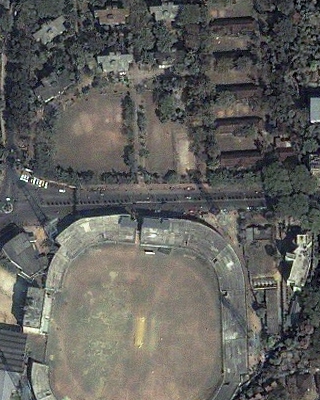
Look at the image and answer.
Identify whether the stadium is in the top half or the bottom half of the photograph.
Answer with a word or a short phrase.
bottom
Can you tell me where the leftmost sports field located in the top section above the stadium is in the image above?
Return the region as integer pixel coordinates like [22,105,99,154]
[54,92,128,172]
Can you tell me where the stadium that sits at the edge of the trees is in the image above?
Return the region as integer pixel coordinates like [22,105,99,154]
[23,212,247,400]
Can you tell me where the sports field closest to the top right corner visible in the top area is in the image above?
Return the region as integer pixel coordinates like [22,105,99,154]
[143,88,199,172]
